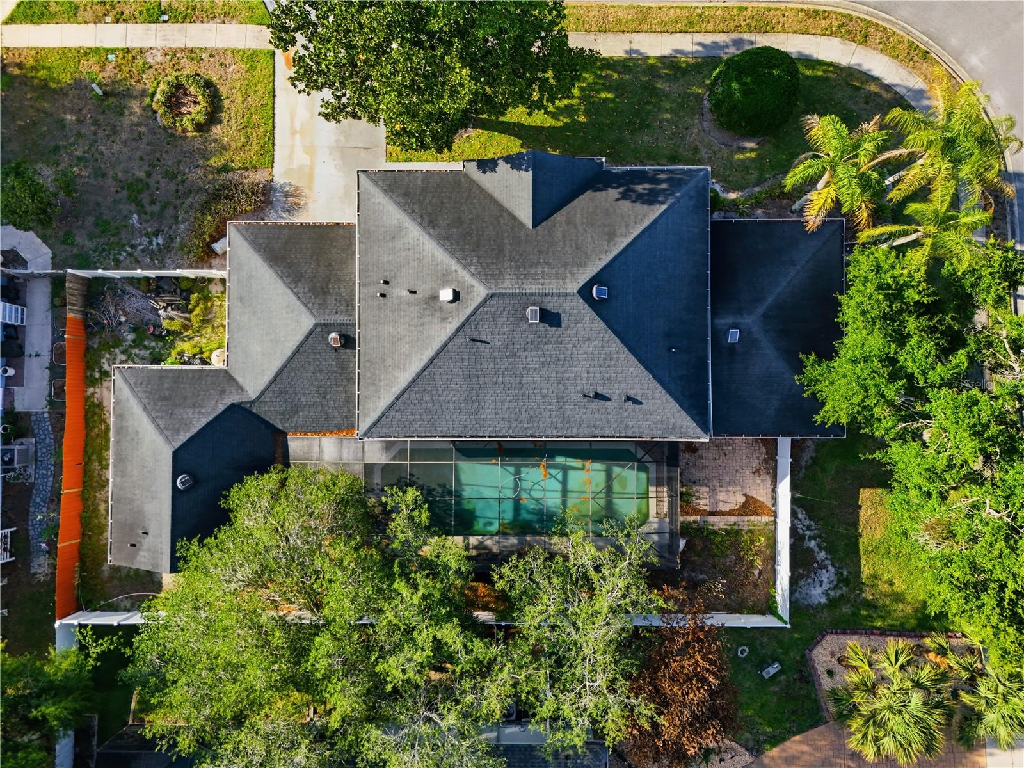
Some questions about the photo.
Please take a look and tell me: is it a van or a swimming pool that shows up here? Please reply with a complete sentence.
Of the two, only a swimming pool appears.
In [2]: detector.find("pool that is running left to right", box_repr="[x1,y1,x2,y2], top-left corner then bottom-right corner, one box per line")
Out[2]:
[374,442,656,542]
